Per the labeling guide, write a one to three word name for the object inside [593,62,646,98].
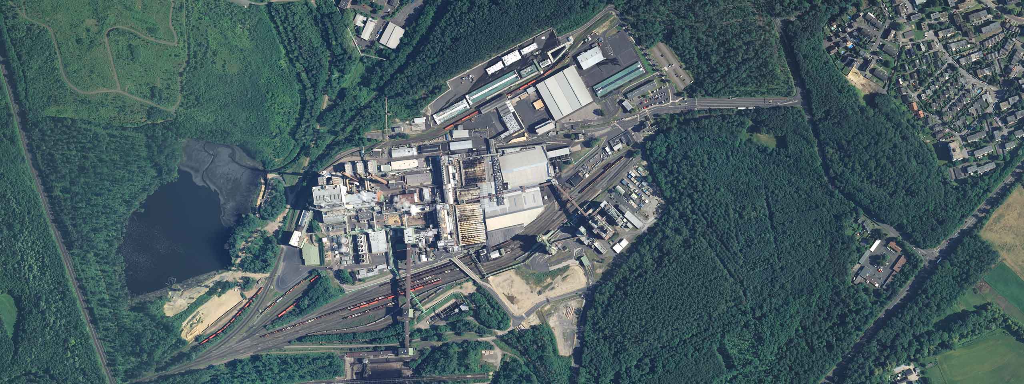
building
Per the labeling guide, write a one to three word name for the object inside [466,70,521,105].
building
